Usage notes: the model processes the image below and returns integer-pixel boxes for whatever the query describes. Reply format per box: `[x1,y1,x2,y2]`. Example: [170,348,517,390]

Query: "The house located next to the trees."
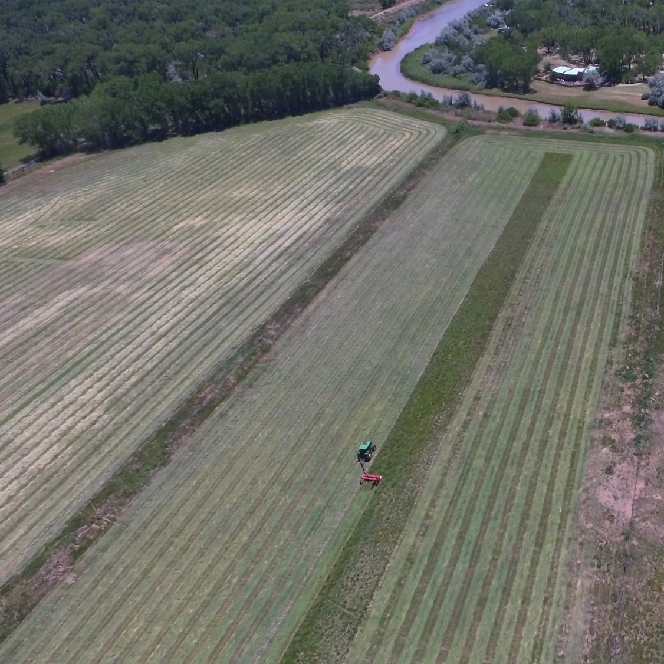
[553,66,600,83]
